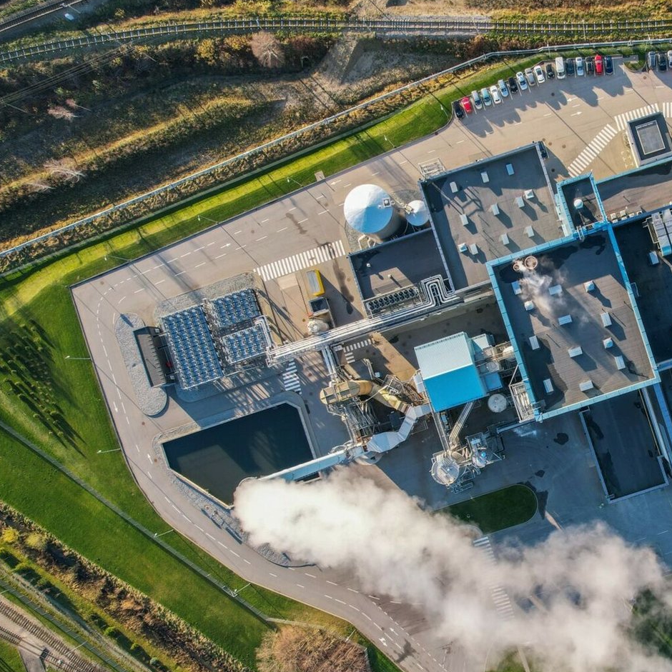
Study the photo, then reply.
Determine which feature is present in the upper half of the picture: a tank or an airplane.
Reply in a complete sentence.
What appears in the upper half of the picture is a tank.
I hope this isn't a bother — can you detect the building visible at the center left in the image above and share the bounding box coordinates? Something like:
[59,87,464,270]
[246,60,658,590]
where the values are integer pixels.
[133,326,174,387]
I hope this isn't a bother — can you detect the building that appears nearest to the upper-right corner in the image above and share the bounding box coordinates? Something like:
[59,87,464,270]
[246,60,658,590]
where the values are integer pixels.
[626,113,672,169]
